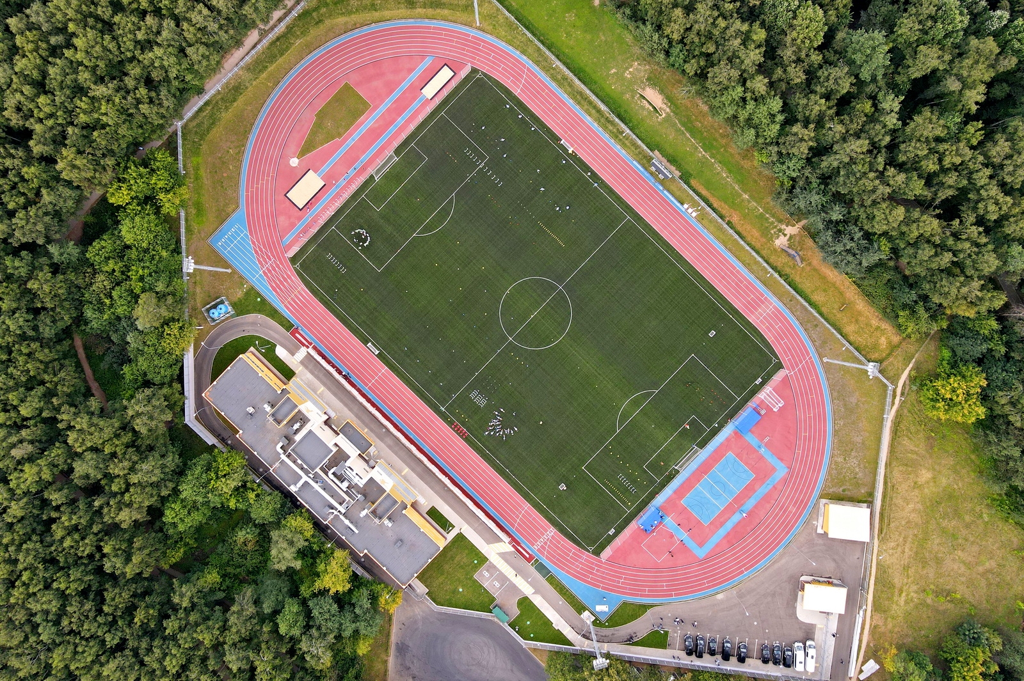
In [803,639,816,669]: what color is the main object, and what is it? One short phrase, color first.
white vehicle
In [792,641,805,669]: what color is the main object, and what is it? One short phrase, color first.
white vehicle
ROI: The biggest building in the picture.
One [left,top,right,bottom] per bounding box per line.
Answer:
[200,352,446,590]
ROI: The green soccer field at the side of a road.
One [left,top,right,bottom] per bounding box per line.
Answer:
[288,66,784,558]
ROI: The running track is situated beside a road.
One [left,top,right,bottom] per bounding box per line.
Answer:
[203,17,834,623]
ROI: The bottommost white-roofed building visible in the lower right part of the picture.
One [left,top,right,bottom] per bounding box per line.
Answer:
[800,581,852,616]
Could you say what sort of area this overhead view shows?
sports ground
